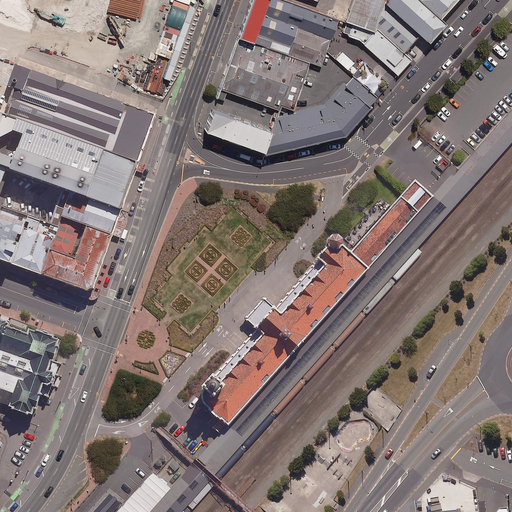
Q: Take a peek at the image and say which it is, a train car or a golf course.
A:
train car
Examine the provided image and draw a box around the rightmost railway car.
[394,250,423,280]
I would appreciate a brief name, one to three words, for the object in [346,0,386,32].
shed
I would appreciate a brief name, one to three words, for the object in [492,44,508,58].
vehicle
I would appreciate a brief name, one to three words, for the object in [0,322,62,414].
building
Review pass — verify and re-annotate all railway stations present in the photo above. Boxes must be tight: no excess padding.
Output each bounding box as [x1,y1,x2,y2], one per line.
[200,180,434,428]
